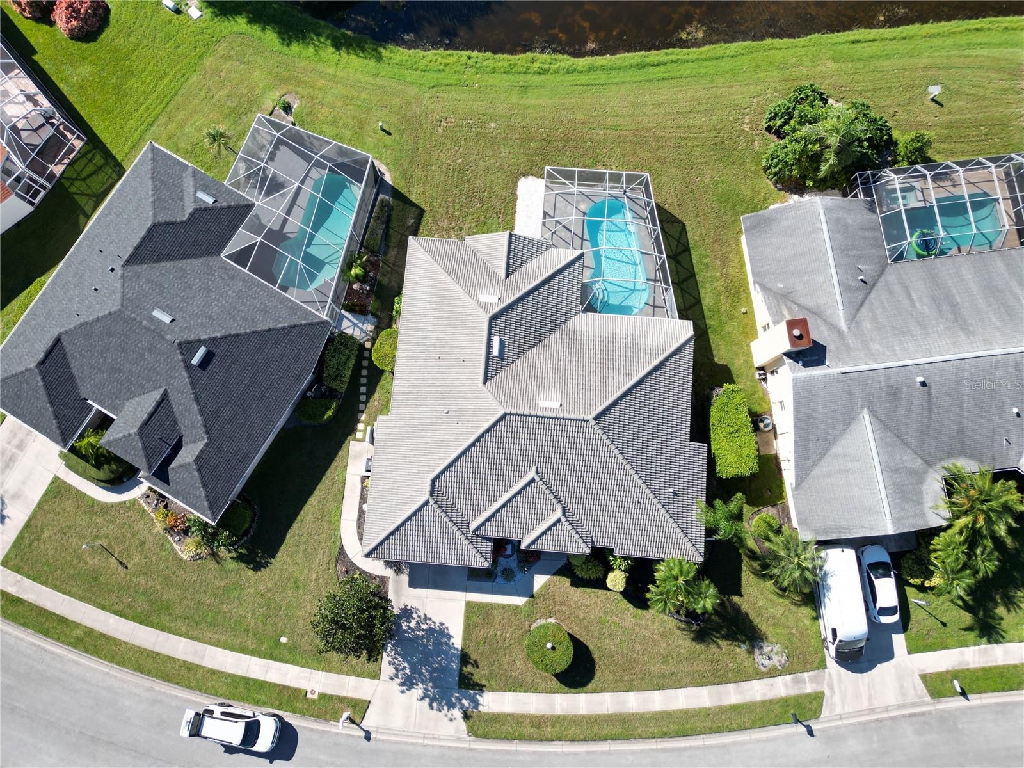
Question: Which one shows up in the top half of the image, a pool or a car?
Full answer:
You can see a pool in the top half of the image.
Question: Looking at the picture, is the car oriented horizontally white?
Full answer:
Yes, the car oriented horizontally appears white.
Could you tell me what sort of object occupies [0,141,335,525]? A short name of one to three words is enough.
house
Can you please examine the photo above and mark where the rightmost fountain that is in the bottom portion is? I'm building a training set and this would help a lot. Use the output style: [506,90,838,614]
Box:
[499,542,520,563]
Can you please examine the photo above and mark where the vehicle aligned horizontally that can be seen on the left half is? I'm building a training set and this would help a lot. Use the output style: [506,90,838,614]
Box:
[177,700,283,749]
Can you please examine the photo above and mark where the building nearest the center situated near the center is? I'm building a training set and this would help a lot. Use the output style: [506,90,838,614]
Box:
[360,230,708,569]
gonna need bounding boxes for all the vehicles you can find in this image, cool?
[816,551,870,658]
[858,544,902,626]
[177,700,283,749]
